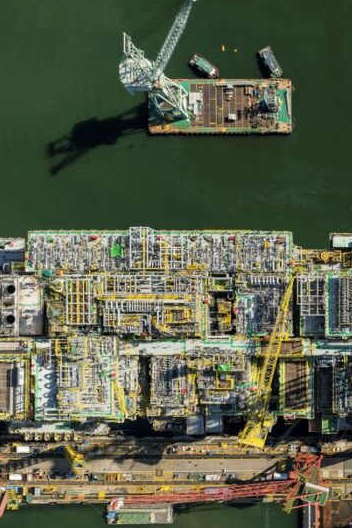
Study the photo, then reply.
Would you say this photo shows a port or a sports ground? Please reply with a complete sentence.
The picture captures a port.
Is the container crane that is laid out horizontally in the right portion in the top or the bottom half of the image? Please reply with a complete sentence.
Seen from above, the container crane that is laid out horizontally in the right portion lies in the bottom half of the view.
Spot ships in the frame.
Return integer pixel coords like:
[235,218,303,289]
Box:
[0,227,352,440]
[107,497,173,525]
[148,79,293,135]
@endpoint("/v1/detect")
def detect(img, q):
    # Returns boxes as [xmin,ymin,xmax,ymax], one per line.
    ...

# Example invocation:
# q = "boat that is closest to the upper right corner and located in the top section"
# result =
[257,46,281,79]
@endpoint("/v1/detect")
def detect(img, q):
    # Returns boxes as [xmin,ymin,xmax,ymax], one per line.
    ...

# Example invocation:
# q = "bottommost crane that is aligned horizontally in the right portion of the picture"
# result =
[110,451,337,512]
